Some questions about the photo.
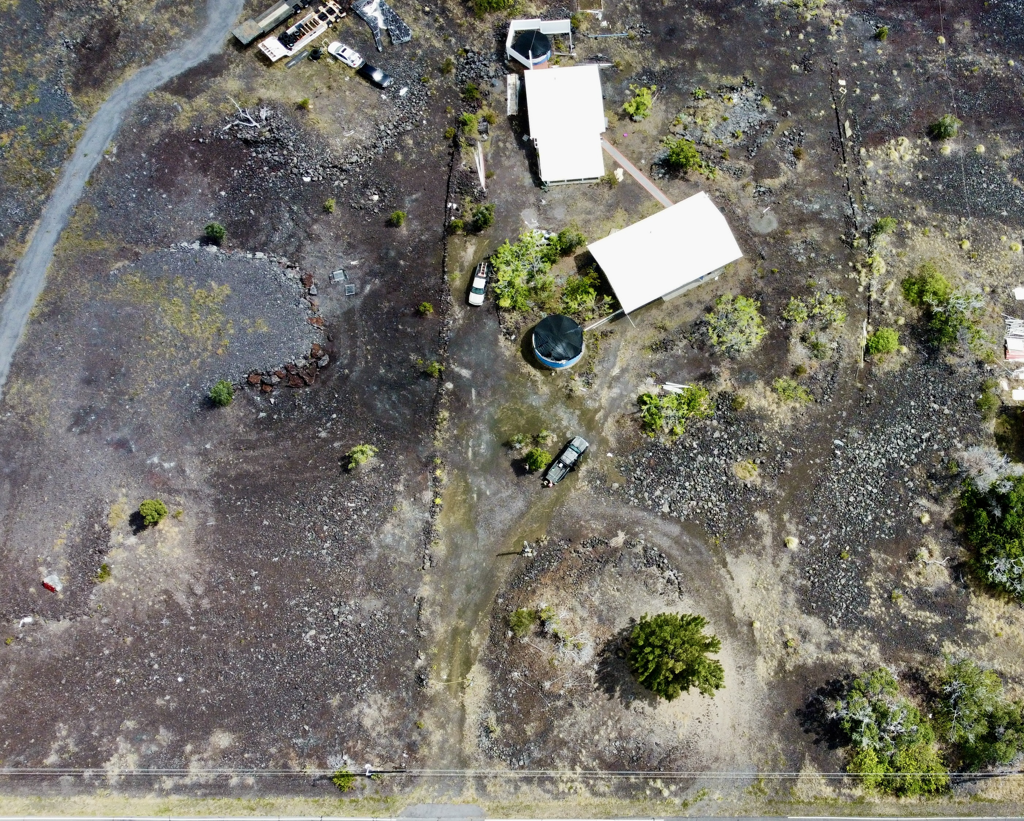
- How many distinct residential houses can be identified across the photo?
2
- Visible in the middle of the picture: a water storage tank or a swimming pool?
water storage tank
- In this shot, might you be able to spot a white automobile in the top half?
Yes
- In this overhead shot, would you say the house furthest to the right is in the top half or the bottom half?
top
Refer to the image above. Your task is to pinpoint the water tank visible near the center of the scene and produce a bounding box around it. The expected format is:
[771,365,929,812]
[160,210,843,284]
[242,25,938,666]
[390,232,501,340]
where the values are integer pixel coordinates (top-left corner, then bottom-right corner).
[533,314,586,369]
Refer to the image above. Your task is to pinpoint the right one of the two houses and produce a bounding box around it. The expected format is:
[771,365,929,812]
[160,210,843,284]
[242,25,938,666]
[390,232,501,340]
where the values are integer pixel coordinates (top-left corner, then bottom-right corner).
[587,191,743,319]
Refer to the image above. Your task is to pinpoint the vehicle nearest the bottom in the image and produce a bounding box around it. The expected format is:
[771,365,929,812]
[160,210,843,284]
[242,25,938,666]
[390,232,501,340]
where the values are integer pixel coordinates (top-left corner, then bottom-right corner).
[548,434,590,488]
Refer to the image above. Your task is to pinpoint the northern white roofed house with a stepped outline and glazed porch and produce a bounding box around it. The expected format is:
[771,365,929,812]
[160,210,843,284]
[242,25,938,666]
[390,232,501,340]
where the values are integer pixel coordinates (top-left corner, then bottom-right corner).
[524,65,608,194]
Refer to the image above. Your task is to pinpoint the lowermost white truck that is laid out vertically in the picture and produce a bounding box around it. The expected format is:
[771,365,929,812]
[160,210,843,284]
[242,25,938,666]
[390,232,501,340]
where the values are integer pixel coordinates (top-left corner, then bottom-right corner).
[467,260,493,307]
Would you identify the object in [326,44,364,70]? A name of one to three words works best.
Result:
car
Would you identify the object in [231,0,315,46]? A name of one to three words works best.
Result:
trailer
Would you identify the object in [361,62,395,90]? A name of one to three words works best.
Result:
car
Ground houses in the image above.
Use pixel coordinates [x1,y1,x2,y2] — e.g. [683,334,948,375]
[524,65,608,194]
[587,191,743,319]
